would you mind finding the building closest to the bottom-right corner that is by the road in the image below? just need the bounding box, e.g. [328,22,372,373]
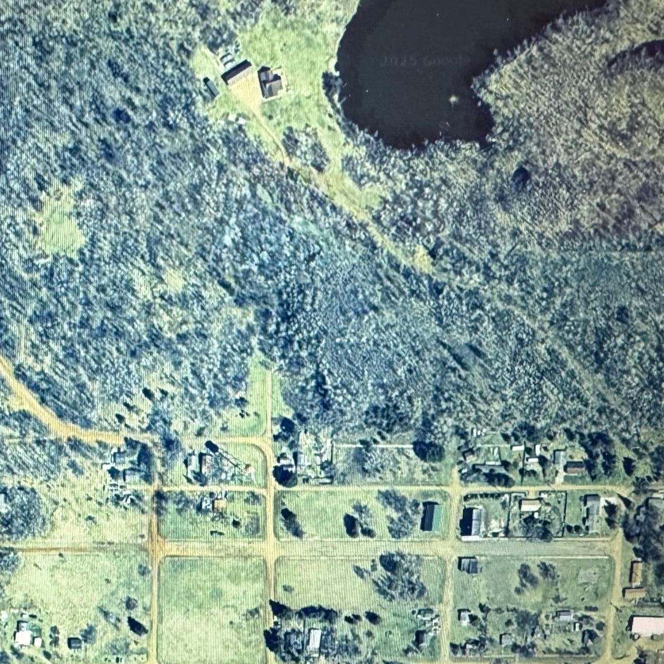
[632,618,664,637]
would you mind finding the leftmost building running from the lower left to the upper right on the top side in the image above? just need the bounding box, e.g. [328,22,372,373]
[223,59,254,85]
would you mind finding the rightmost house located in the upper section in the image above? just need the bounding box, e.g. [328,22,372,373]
[261,72,284,98]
